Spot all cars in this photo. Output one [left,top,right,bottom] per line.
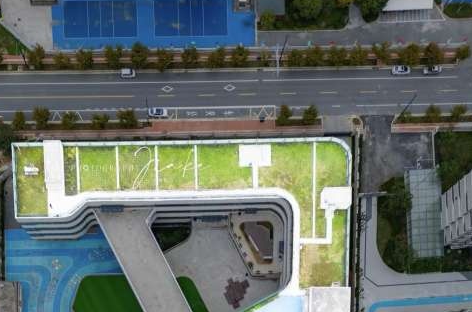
[120,69,137,78]
[149,109,166,117]
[392,66,409,75]
[422,66,440,75]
